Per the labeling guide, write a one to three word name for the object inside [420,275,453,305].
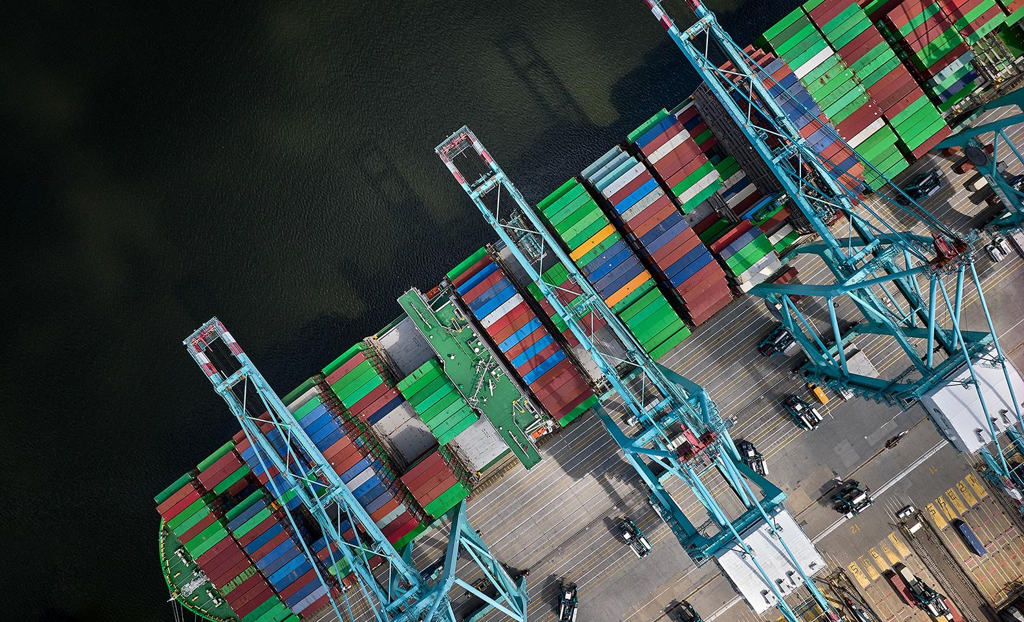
boat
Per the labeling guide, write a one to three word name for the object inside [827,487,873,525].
work vehicle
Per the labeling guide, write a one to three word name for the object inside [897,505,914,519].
vehicle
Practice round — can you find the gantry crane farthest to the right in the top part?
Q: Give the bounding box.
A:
[913,85,1024,234]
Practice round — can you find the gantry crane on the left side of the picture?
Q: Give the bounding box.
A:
[170,313,537,622]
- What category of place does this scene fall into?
port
